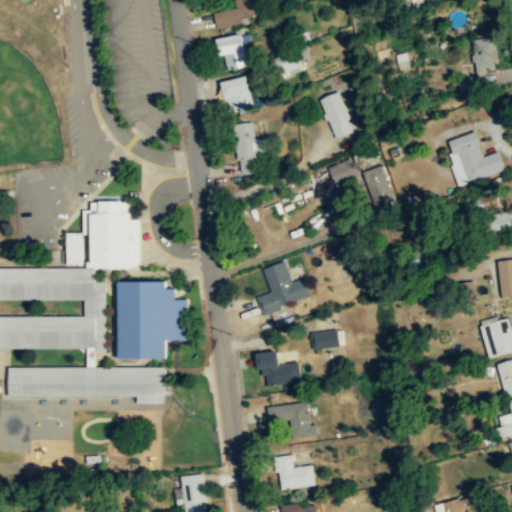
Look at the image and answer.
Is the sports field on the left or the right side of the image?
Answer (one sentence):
The sports field appears in the left half of the scene.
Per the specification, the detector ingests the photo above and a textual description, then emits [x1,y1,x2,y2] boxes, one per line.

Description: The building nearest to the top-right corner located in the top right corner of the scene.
[474,38,502,75]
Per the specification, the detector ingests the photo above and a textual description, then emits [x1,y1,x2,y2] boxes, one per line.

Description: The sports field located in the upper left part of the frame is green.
[0,40,64,166]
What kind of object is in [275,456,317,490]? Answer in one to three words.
house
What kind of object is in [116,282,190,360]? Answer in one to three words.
building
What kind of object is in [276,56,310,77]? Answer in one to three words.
house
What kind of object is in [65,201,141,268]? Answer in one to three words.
building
